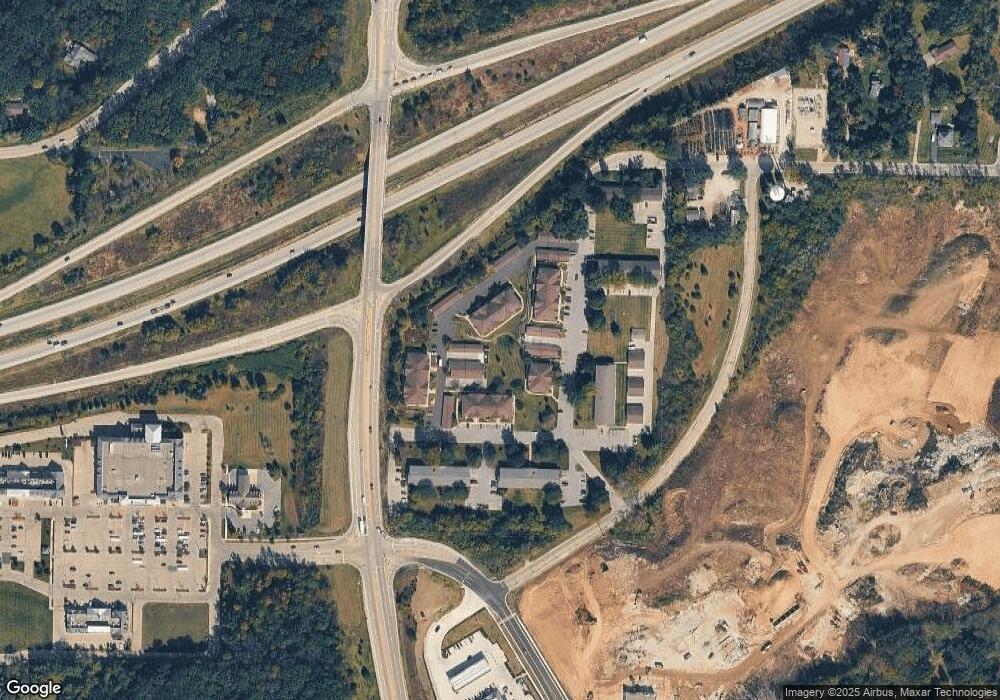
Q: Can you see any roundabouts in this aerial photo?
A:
No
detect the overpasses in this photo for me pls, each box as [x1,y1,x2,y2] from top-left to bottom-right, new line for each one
[363,129,389,263]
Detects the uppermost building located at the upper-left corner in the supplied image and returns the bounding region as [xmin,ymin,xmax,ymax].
[67,42,94,64]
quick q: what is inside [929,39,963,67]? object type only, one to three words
house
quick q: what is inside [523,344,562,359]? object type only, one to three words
building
